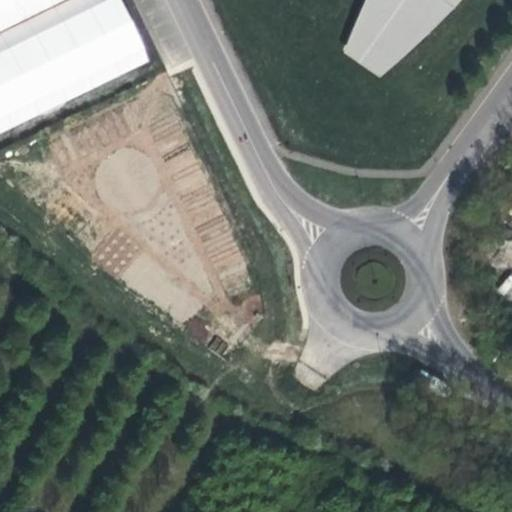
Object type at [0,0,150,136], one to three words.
warehouse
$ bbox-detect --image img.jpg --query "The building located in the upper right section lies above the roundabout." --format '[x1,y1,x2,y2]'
[344,0,462,78]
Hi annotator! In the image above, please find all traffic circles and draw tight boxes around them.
[302,207,444,351]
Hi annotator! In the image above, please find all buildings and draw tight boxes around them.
[0,0,150,136]
[498,276,512,296]
[344,0,462,78]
